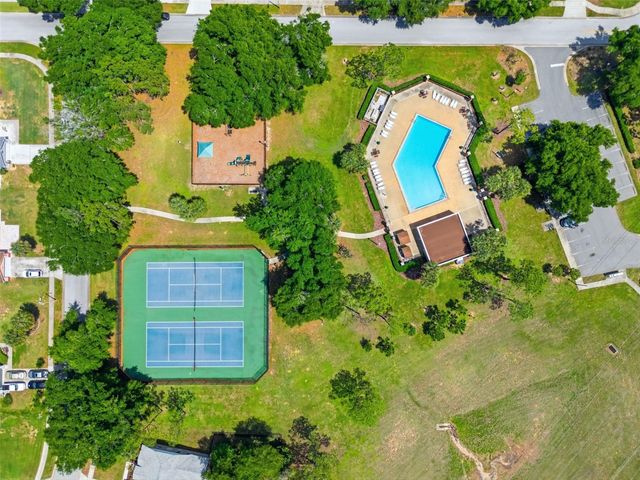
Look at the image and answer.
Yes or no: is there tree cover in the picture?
Yes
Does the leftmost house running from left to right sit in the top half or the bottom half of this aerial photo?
bottom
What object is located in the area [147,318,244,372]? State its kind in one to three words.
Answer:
tennis court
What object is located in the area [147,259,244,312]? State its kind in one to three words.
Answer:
tennis court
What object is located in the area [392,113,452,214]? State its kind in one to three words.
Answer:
swimming pool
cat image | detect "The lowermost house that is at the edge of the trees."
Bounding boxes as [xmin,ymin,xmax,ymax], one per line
[132,444,208,480]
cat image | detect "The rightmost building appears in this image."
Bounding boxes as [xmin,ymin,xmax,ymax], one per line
[417,212,471,266]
